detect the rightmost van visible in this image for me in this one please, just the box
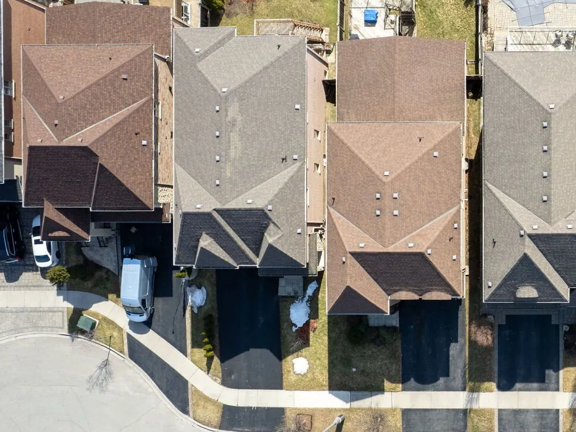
[119,252,160,322]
